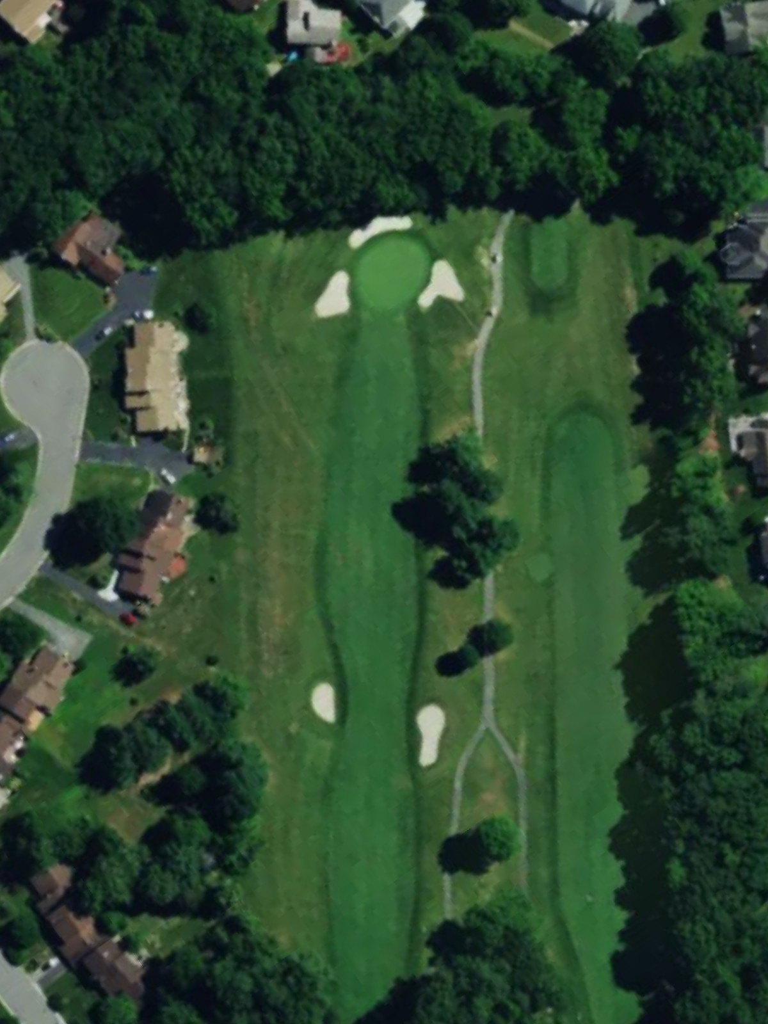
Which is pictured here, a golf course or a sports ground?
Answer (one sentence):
The picture captures a golf course.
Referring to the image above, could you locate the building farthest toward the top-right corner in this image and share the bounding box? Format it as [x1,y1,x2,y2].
[719,2,768,55]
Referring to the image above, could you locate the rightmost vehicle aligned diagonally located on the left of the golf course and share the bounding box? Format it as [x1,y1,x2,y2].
[160,468,175,484]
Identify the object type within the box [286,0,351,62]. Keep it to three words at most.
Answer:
house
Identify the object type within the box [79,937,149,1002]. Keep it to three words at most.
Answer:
house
